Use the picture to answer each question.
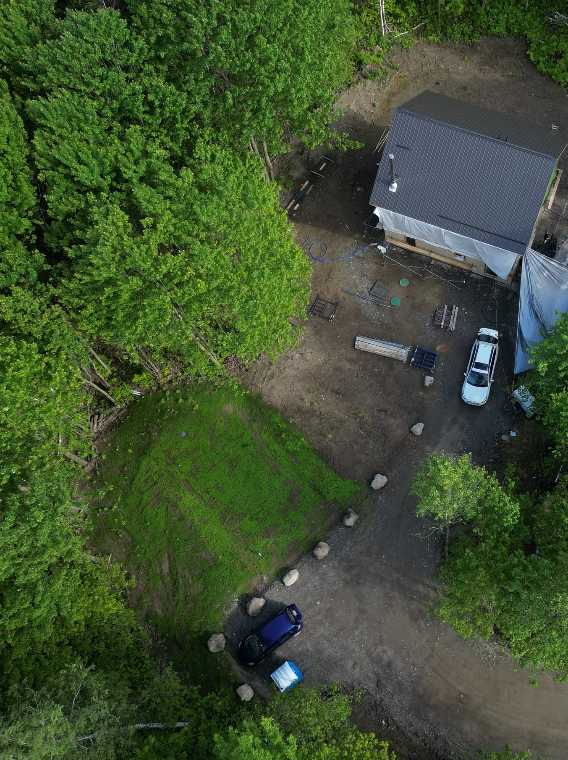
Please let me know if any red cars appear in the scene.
No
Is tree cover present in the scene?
Yes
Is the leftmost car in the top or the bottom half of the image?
bottom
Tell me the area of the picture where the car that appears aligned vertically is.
right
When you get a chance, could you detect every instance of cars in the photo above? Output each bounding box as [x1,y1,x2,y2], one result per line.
[237,610,311,669]
[463,327,501,408]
